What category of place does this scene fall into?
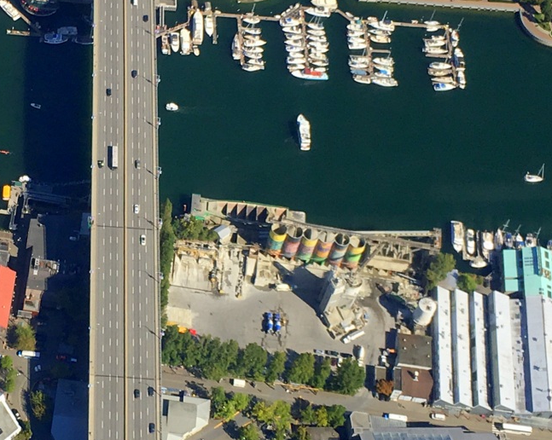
port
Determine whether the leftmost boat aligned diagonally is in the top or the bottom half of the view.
top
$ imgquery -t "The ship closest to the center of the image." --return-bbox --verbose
[296,111,312,152]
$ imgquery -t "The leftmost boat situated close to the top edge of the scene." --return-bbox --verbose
[0,0,23,21]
